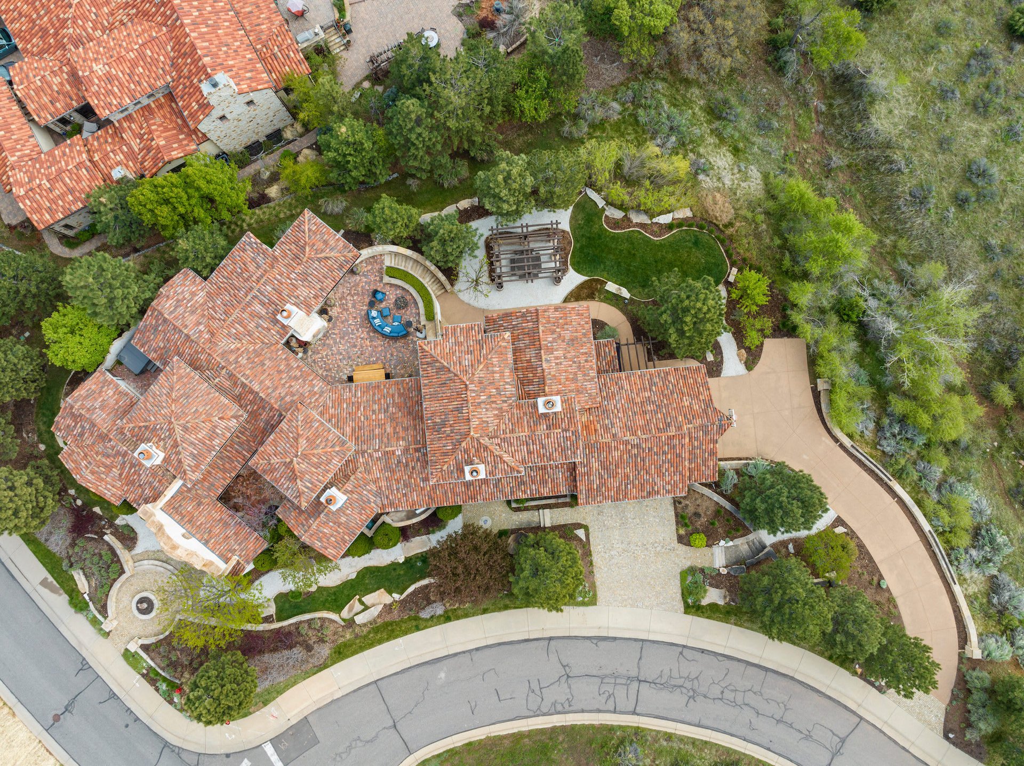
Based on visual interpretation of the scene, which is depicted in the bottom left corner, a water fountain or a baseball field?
water fountain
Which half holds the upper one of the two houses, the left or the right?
left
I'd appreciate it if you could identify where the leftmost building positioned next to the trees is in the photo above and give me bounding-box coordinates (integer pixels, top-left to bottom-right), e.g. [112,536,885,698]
[0,0,312,238]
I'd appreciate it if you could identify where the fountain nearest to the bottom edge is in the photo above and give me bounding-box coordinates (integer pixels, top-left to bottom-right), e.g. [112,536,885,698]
[129,592,158,621]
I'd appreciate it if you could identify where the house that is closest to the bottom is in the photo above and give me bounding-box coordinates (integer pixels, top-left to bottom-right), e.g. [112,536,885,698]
[50,207,736,580]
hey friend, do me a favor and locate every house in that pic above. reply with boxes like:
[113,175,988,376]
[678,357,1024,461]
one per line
[50,207,736,580]
[0,0,312,238]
